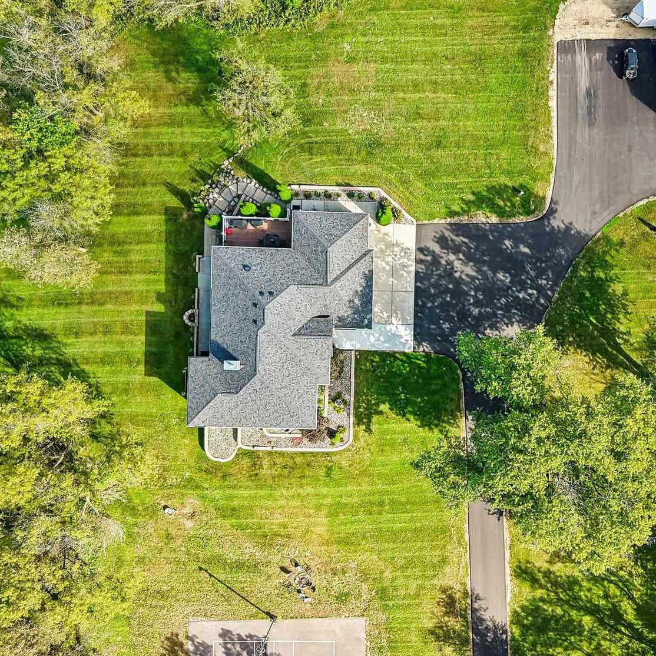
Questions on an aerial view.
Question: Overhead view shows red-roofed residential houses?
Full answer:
No, the scene contains no red-roofed residential house.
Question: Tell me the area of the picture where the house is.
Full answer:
The house is located in the center region of the scene.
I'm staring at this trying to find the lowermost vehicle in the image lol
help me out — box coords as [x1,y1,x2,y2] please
[624,46,641,76]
